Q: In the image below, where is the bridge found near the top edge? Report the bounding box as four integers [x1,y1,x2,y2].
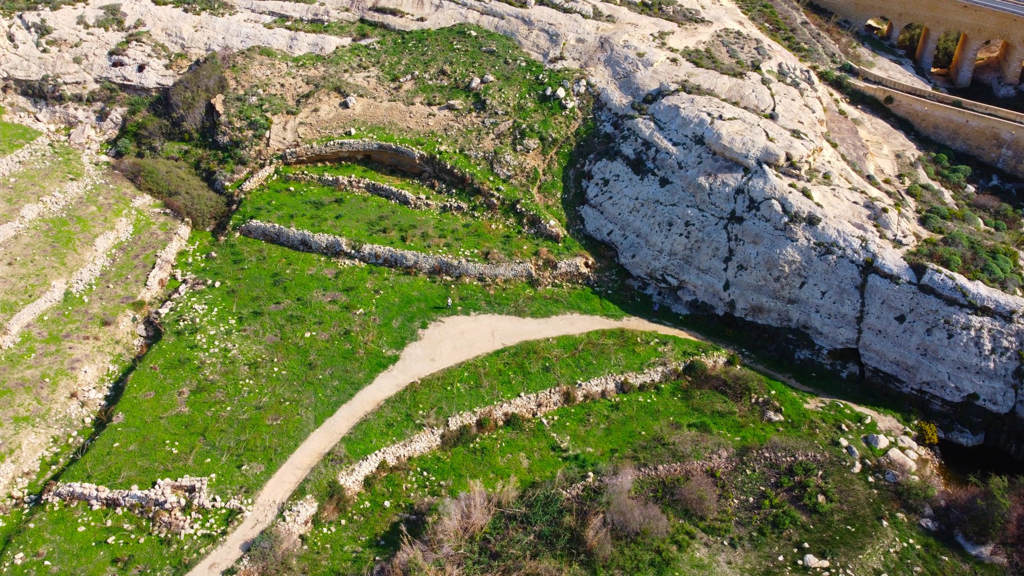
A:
[837,0,1024,97]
